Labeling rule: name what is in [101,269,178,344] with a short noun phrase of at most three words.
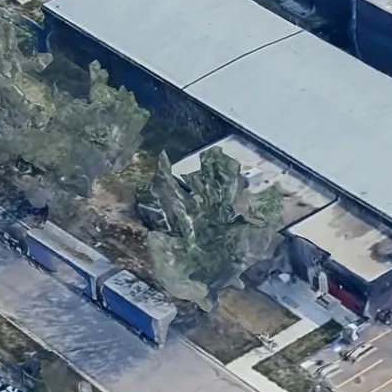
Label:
trailer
